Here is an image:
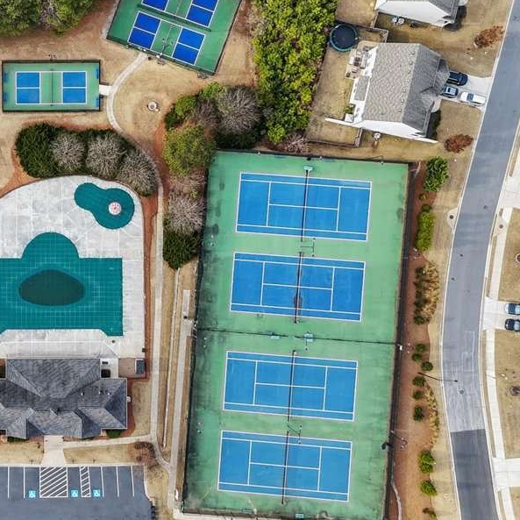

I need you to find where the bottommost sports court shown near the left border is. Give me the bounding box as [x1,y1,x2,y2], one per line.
[4,63,100,111]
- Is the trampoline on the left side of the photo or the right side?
right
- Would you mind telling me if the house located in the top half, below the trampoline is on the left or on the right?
right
